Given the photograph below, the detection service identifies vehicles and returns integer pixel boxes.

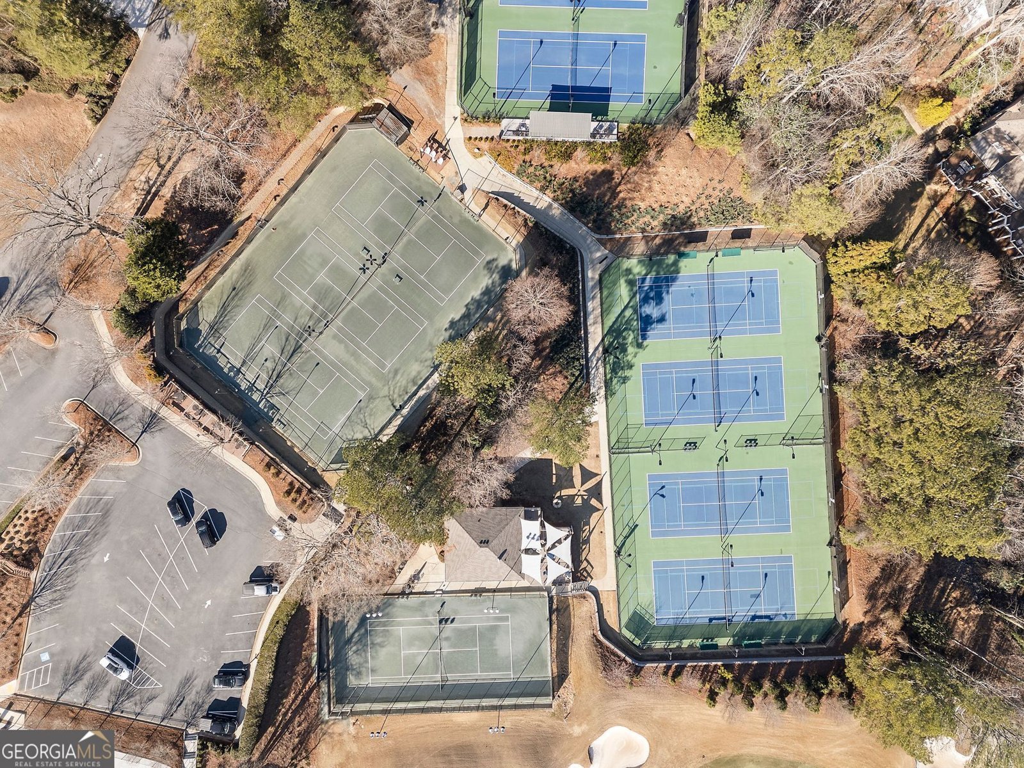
[99,653,131,679]
[241,581,281,597]
[213,673,246,690]
[195,517,217,550]
[166,498,190,528]
[198,716,238,736]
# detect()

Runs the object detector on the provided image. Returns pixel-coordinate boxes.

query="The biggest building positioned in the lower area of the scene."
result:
[445,506,525,582]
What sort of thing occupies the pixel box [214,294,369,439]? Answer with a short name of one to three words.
tennis court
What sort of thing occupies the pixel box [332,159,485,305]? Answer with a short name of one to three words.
tennis court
